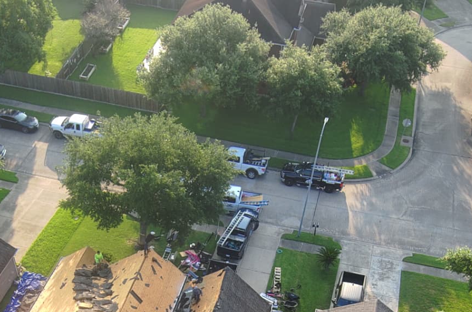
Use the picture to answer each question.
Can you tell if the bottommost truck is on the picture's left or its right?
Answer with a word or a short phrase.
right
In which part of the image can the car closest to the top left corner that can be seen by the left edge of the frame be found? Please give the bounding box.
[0,111,39,136]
